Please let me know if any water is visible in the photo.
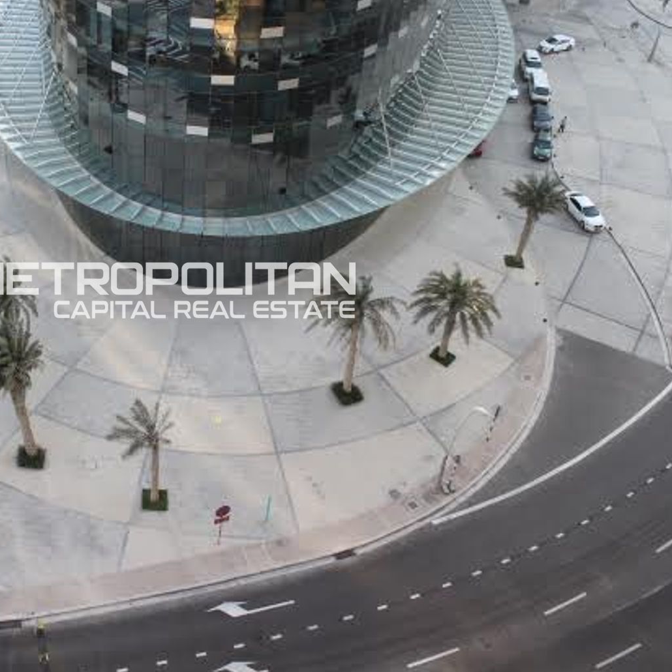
No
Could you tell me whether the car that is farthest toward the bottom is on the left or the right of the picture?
right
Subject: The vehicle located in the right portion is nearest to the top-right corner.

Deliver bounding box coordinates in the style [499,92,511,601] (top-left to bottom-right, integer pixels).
[539,36,578,54]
